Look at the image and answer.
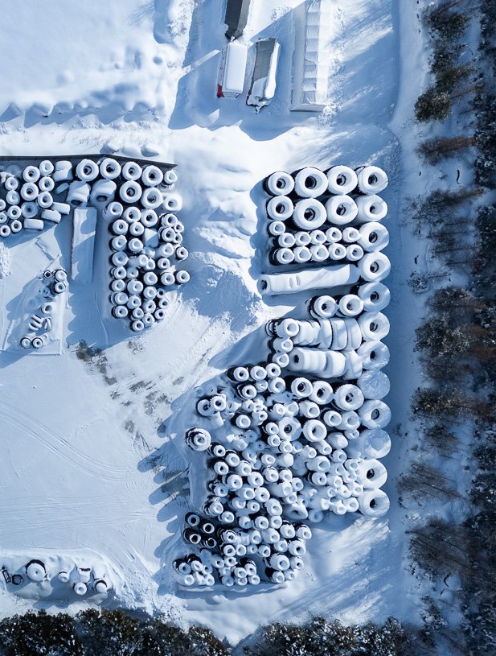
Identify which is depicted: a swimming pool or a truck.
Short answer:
truck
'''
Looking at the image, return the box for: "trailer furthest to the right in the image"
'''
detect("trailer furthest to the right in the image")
[291,0,331,110]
